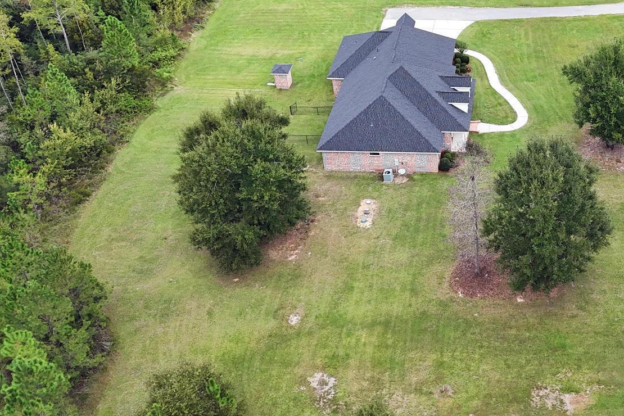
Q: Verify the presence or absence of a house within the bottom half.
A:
No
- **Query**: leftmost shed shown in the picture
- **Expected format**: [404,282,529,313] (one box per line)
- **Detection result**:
[270,64,293,89]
